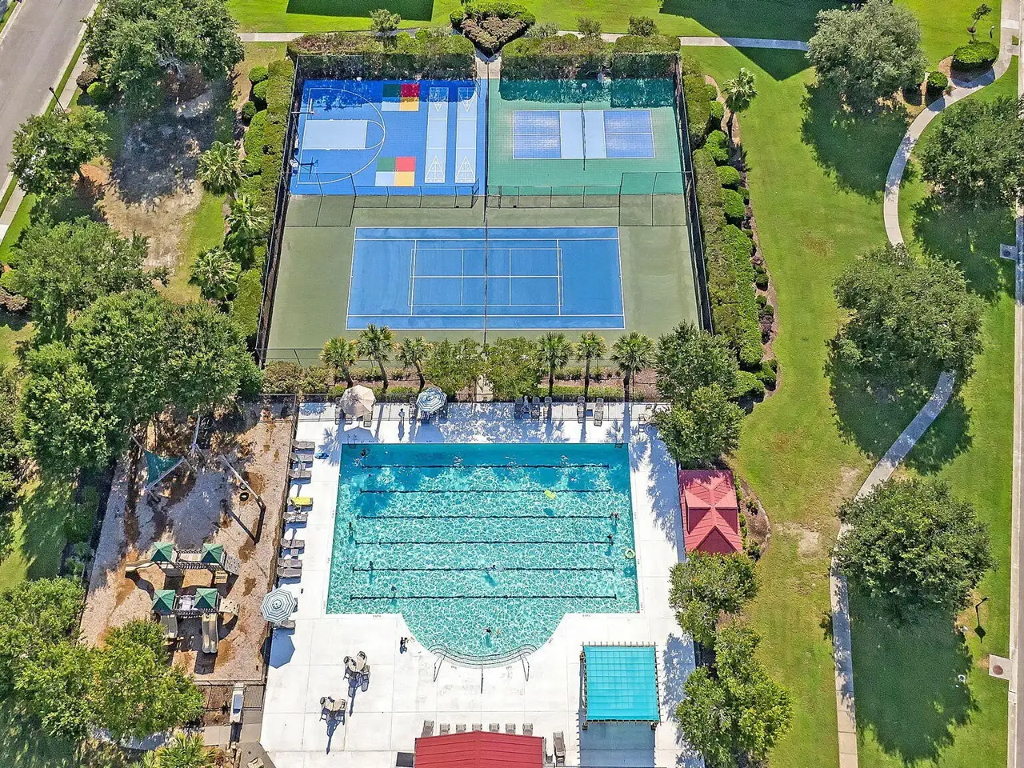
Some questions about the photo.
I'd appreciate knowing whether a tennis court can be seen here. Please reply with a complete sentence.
Yes, there is a tennis court in the image.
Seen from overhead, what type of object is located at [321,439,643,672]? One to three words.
swimming pool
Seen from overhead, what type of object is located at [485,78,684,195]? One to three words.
sports court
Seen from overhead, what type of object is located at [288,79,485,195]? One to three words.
basketball court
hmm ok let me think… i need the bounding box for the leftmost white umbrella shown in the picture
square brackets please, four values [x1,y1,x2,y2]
[259,593,298,631]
